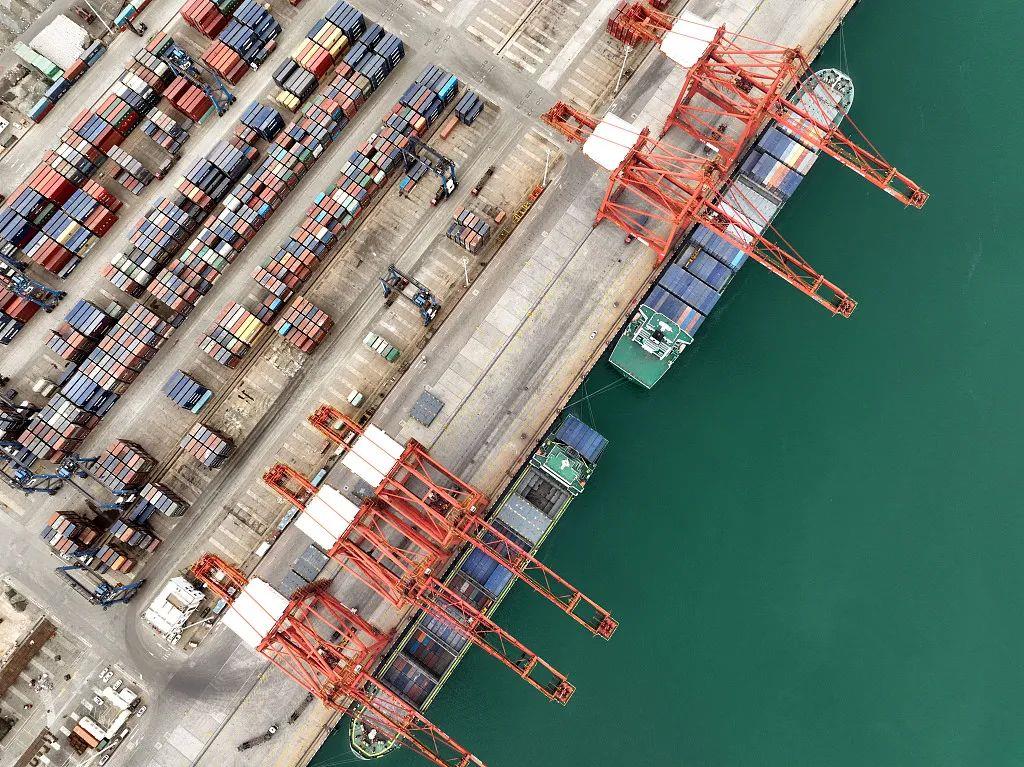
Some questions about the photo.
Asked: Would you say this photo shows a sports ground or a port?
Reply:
port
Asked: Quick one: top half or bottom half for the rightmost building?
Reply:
bottom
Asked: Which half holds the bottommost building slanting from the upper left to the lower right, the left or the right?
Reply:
left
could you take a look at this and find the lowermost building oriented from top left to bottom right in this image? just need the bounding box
[77,717,106,743]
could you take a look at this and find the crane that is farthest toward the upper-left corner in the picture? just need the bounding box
[163,47,234,115]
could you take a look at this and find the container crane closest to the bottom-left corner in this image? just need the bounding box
[57,550,141,610]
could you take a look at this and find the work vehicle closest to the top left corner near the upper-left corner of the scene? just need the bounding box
[67,1,94,22]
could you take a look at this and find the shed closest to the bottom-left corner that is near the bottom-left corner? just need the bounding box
[14,729,56,767]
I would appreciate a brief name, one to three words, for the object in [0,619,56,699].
shed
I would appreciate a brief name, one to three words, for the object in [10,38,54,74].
shed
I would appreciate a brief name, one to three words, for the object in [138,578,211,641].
building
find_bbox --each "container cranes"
[541,93,862,317]
[190,552,484,767]
[57,550,141,610]
[0,252,66,313]
[399,136,459,200]
[378,266,441,327]
[56,456,138,510]
[306,401,621,643]
[619,0,936,207]
[262,459,577,709]
[0,442,58,496]
[163,47,234,115]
